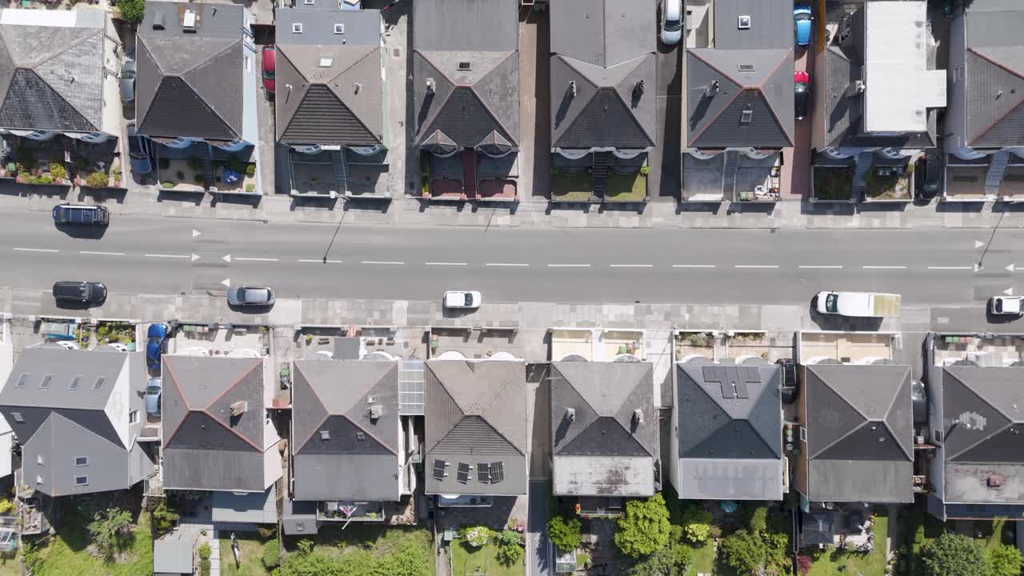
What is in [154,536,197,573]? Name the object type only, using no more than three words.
shed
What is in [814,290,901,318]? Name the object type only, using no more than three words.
truck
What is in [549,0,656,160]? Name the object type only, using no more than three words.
house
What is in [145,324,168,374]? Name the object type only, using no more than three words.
car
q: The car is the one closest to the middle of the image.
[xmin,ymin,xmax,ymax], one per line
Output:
[444,289,481,310]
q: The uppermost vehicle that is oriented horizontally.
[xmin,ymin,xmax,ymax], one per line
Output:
[57,203,111,228]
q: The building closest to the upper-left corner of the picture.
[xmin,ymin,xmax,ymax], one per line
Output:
[0,7,121,144]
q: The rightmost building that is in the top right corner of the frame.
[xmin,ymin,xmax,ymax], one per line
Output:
[946,0,1024,159]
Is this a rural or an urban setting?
urban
